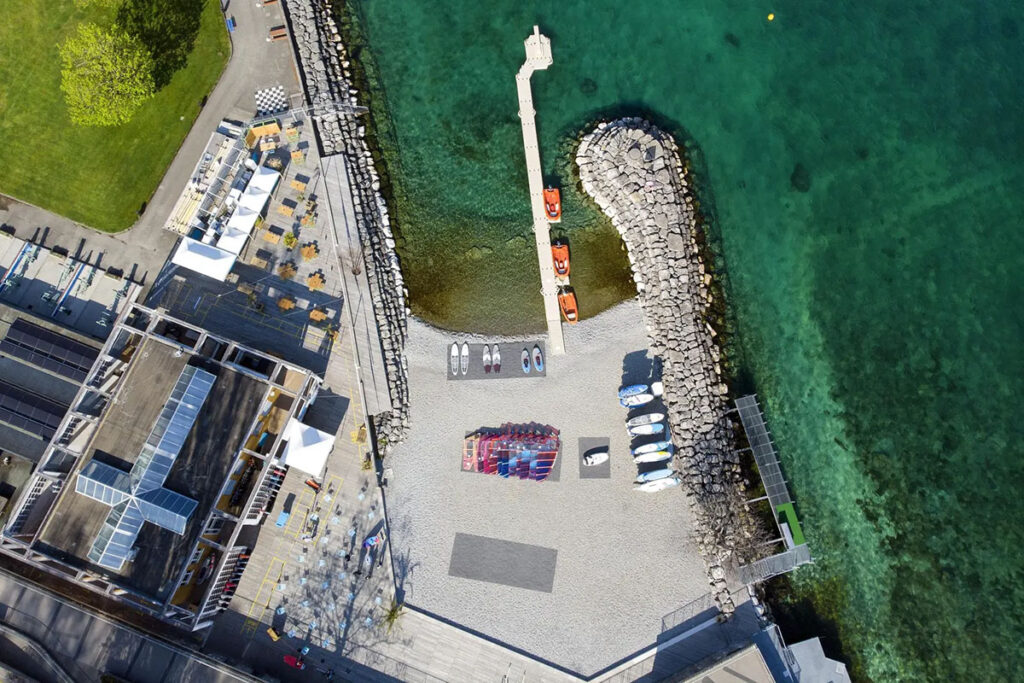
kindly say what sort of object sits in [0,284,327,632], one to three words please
building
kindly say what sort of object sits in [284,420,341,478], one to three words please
tent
